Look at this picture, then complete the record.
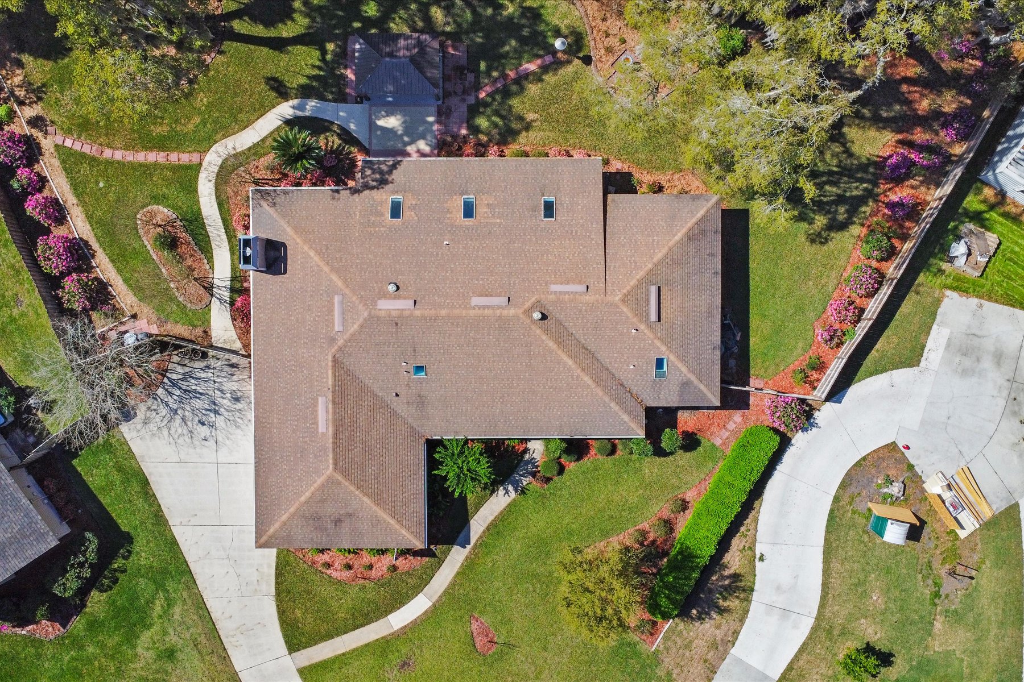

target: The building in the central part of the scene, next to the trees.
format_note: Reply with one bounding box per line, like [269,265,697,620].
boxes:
[232,155,721,565]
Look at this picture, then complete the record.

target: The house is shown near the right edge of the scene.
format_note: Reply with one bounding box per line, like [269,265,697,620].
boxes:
[979,110,1024,206]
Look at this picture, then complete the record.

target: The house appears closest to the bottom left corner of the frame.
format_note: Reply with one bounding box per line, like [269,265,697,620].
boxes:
[0,438,70,582]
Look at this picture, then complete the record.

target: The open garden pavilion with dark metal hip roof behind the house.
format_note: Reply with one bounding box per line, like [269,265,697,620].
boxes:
[355,32,443,104]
